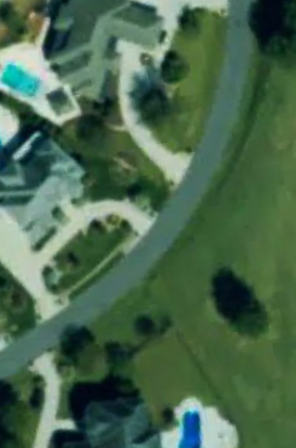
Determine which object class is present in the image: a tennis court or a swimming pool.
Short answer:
swimming pool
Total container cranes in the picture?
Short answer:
none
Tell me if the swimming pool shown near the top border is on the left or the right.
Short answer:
left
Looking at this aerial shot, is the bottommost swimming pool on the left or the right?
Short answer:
right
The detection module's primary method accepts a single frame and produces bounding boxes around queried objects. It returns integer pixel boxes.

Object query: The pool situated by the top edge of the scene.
[0,20,81,126]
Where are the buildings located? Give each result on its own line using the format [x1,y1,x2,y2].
[0,127,93,251]
[37,0,168,102]
[56,386,166,448]
[45,88,73,114]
